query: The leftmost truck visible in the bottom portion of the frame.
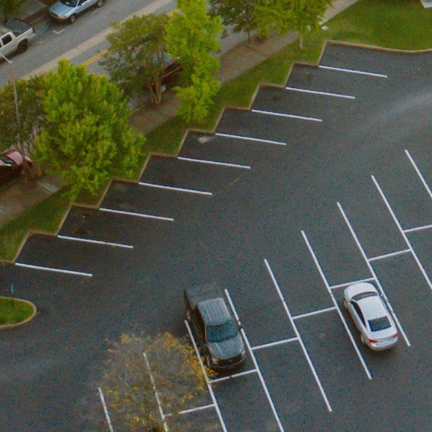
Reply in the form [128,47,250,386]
[186,284,245,367]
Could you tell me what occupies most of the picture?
paved ground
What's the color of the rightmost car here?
white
